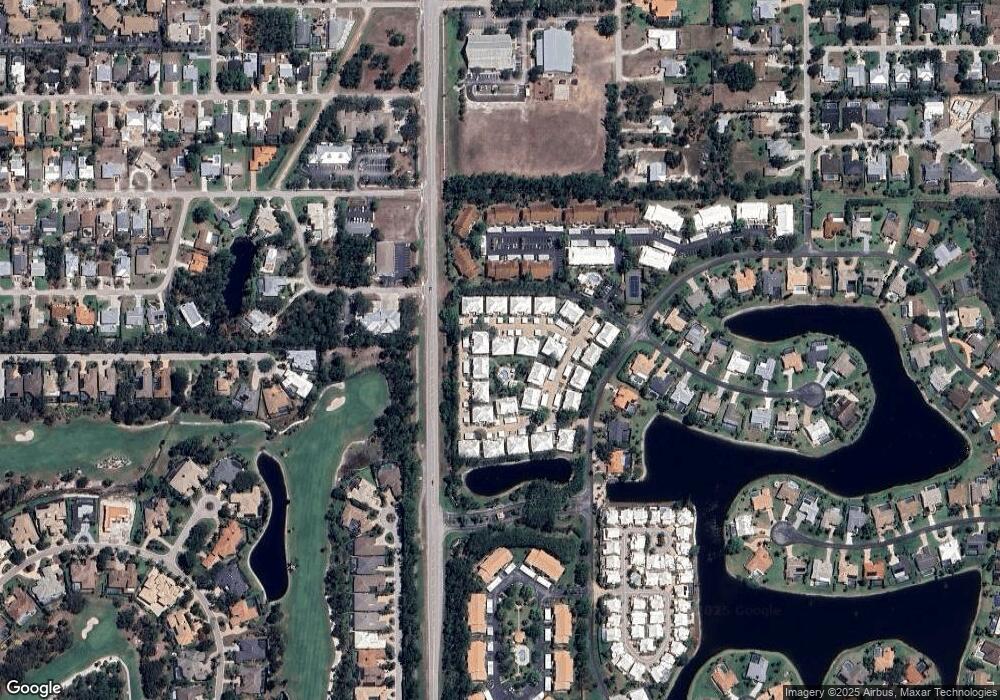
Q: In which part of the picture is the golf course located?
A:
bottom left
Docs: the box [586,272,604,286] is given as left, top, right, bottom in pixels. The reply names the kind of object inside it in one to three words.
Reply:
swimming pool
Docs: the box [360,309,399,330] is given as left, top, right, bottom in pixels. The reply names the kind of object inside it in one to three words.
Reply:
building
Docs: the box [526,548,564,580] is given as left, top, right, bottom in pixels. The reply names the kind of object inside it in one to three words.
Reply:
building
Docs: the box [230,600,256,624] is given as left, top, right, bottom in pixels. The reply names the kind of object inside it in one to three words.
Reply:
house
